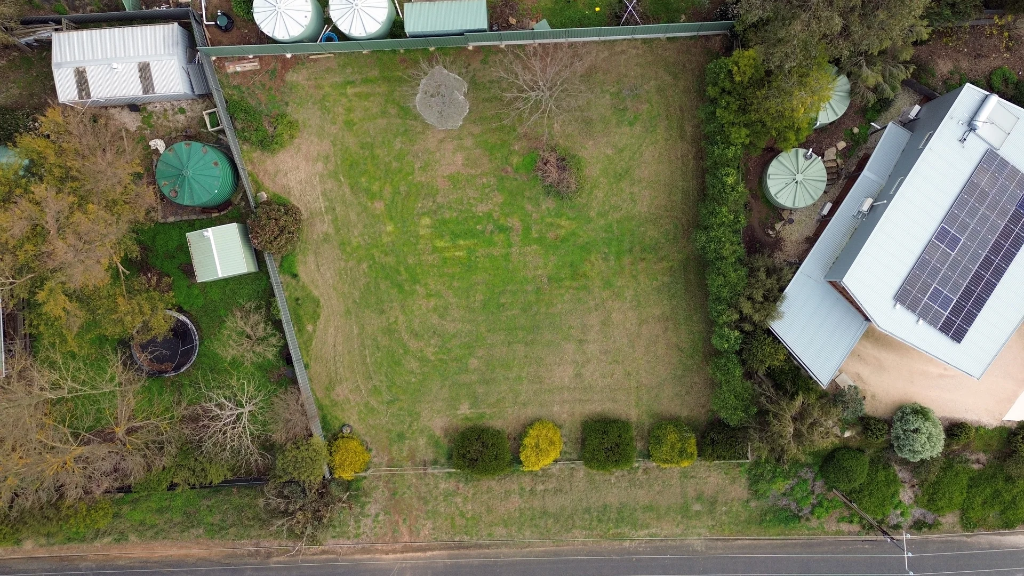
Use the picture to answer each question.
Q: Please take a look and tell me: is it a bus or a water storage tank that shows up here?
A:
water storage tank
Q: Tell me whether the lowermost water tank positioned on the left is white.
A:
No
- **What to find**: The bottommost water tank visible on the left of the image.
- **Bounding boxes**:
[155,141,234,208]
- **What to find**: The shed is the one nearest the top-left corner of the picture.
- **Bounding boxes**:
[50,21,198,110]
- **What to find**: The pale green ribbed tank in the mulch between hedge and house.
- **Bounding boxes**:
[758,148,826,210]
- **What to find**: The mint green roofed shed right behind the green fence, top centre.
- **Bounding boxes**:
[403,0,488,38]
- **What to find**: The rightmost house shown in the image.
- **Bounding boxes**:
[759,82,1024,388]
